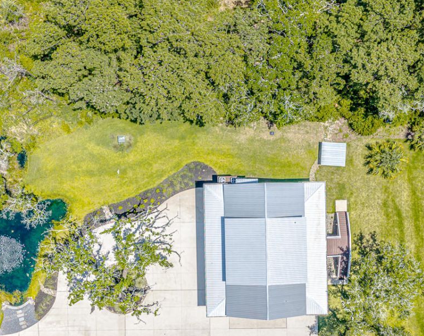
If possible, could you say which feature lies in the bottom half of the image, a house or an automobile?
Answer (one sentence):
Visible in the bottom half of the image is a house.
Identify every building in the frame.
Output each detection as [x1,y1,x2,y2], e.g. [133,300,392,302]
[203,179,329,320]
[321,143,346,166]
